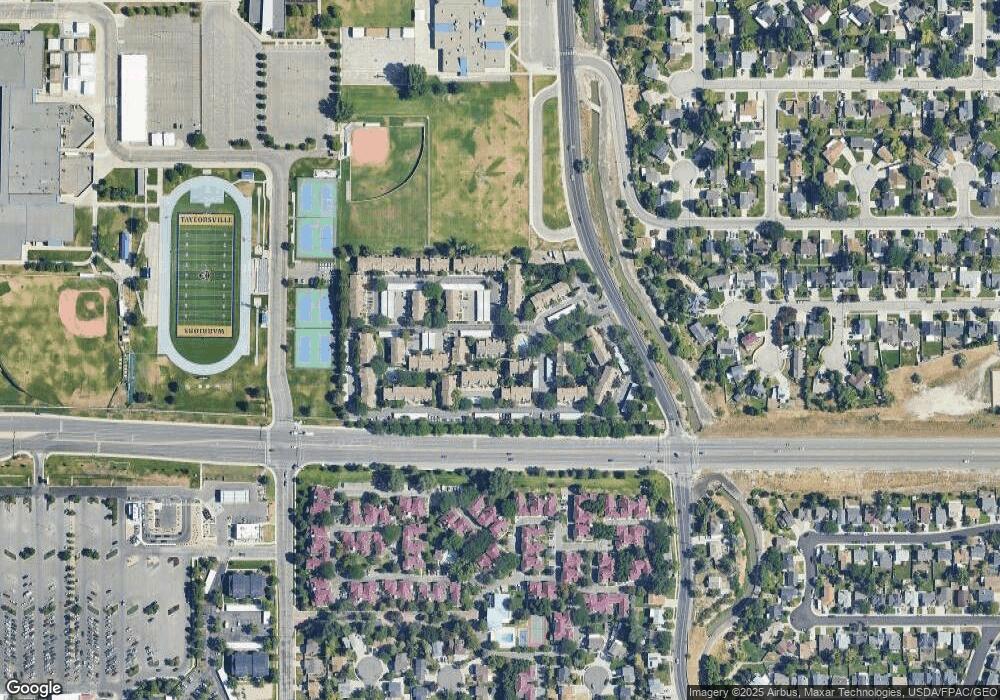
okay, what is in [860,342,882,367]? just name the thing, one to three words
house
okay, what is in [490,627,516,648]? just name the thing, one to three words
swimming pool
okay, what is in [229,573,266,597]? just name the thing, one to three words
building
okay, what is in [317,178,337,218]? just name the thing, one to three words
tennis court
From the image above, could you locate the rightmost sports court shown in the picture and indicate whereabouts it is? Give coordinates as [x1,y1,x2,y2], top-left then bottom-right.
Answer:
[527,616,547,647]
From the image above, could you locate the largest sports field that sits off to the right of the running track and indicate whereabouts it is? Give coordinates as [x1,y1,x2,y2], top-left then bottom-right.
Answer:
[340,77,530,252]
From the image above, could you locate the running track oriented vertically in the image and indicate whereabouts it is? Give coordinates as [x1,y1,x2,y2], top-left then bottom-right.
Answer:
[158,177,251,375]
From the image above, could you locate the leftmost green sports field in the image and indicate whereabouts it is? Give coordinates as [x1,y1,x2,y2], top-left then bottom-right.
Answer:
[171,191,240,364]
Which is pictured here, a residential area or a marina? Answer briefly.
residential area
